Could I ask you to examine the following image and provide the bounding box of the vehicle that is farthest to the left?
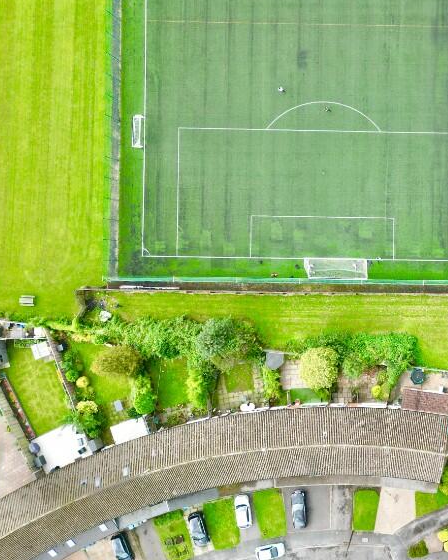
[111,532,134,560]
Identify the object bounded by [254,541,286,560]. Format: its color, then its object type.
white car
